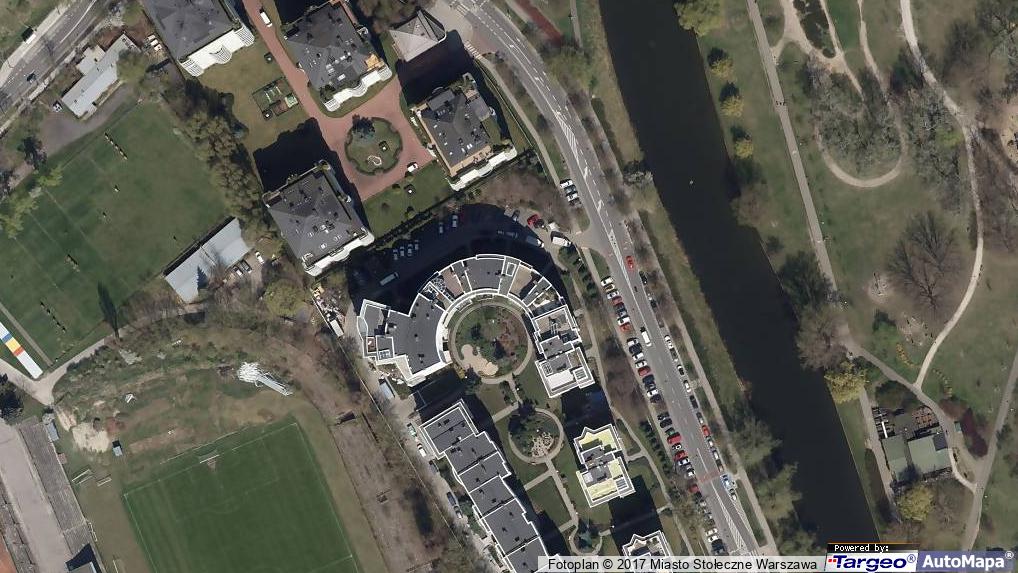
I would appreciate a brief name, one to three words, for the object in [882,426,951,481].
building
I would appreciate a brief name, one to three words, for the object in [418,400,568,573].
building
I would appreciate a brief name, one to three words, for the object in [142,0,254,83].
house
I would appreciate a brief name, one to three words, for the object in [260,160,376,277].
house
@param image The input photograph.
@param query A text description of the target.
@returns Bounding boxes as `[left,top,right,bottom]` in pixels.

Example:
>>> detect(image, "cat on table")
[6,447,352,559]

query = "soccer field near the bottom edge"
[117,416,367,573]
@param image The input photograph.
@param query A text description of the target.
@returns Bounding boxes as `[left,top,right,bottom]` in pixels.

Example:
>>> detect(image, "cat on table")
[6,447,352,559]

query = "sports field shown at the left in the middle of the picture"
[0,91,234,368]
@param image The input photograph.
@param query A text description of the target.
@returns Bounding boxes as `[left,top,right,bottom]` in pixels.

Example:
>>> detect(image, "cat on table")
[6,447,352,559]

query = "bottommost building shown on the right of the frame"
[622,529,674,573]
